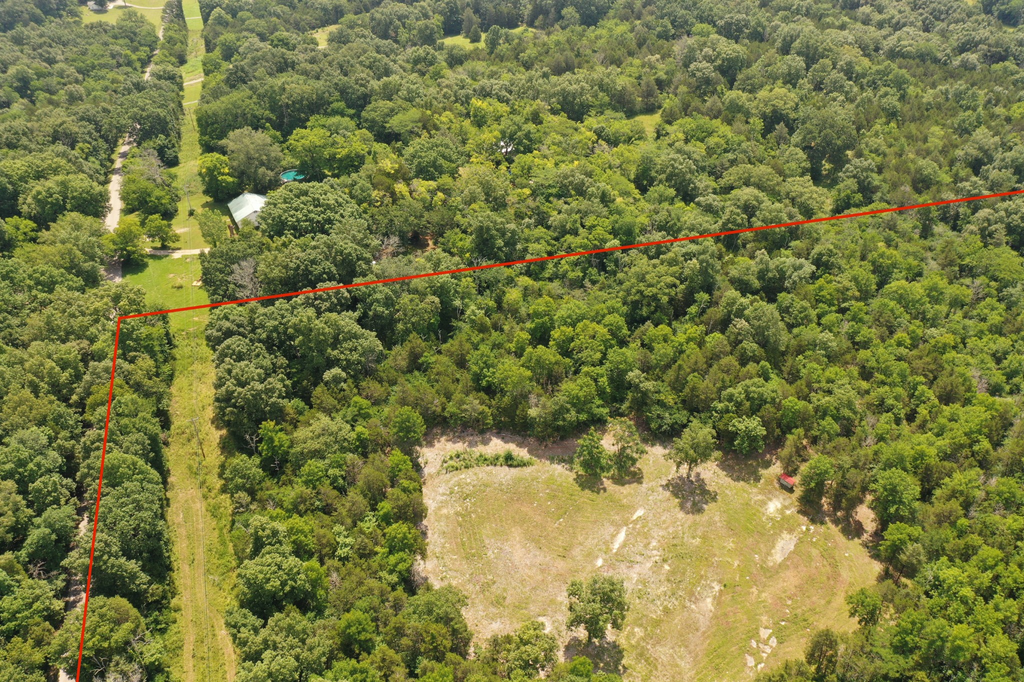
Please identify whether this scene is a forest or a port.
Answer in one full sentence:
It's a forest.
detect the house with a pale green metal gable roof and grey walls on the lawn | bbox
[228,192,273,226]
